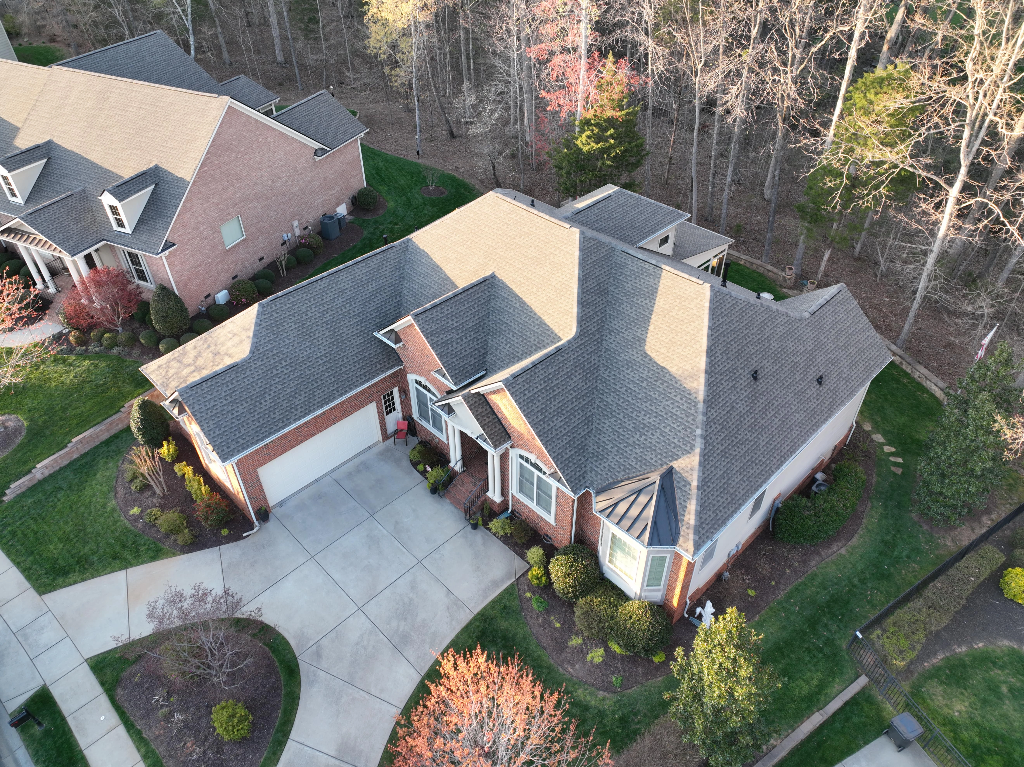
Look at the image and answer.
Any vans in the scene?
No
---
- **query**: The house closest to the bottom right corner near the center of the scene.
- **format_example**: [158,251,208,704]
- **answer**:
[138,173,894,621]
